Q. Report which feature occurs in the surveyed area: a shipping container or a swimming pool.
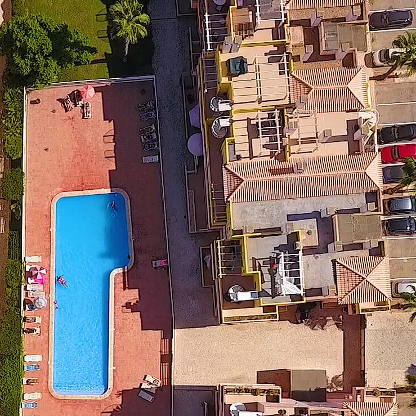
swimming pool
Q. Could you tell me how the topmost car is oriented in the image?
horizontally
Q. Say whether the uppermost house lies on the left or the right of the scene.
right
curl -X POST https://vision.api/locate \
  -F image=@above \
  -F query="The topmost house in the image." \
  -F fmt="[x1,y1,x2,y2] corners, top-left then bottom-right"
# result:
[176,0,382,178]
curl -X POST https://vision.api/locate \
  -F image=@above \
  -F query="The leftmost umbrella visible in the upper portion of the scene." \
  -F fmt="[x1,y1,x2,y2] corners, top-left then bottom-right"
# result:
[79,86,96,102]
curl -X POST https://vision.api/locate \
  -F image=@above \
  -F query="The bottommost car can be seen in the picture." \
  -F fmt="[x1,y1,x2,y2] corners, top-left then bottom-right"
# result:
[393,280,416,297]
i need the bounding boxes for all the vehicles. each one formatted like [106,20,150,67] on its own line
[385,194,416,214]
[381,163,416,183]
[380,143,416,163]
[393,280,416,297]
[368,8,413,31]
[386,215,416,235]
[381,122,416,144]
[374,46,414,68]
